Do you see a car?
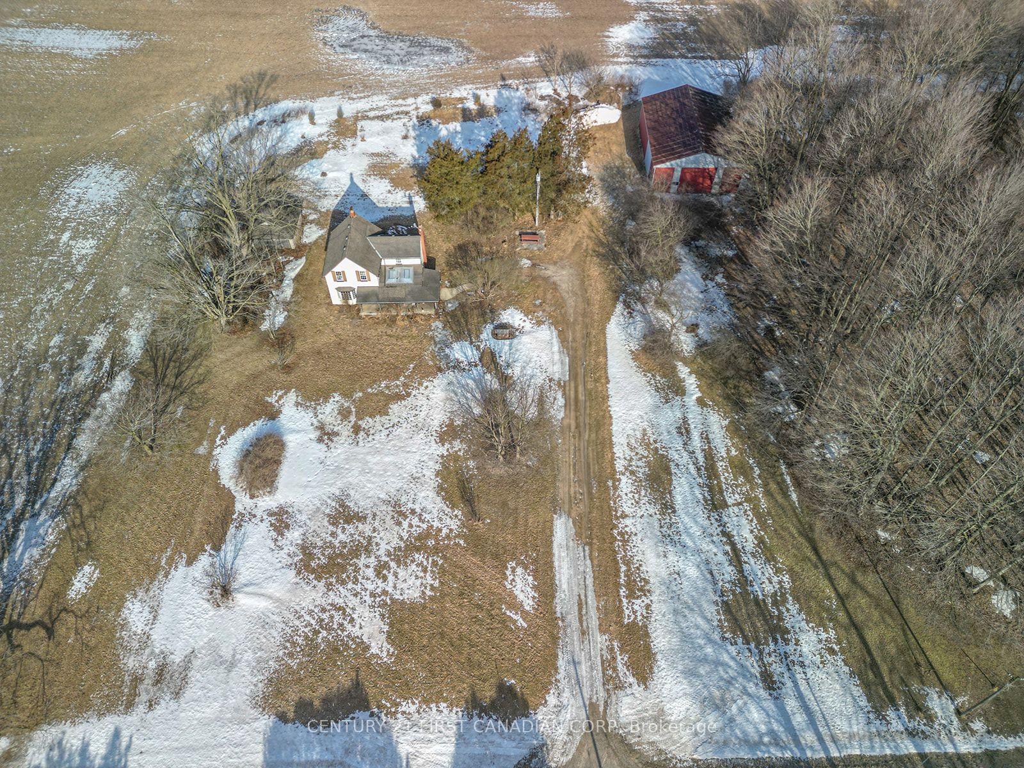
No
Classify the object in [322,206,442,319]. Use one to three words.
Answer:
house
